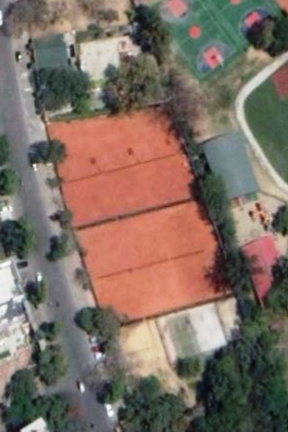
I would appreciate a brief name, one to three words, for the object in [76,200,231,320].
tennis court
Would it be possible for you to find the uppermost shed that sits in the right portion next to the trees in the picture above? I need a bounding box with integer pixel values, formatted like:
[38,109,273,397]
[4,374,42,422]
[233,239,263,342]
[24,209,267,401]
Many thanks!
[202,137,256,203]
